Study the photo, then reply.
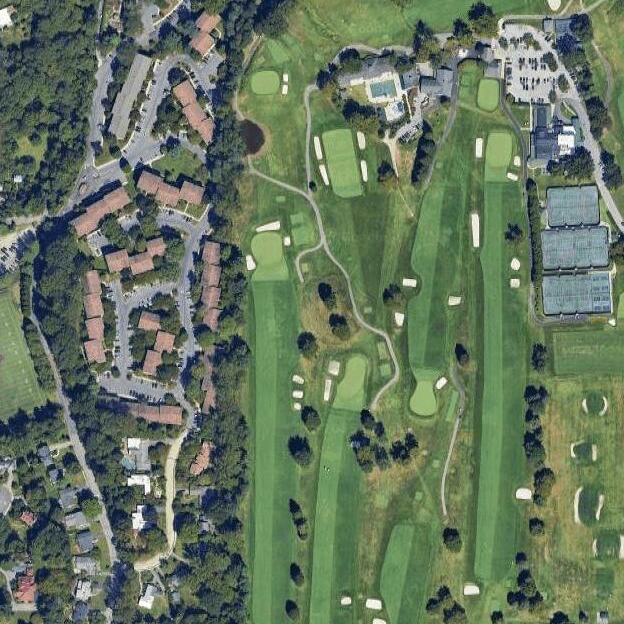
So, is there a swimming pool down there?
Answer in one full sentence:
Yes, the frame does contain a swimming pool.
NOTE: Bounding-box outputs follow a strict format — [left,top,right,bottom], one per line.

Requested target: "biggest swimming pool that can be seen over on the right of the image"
[364,71,404,104]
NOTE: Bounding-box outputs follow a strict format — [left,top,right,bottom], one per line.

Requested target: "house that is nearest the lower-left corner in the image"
[7,563,36,603]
